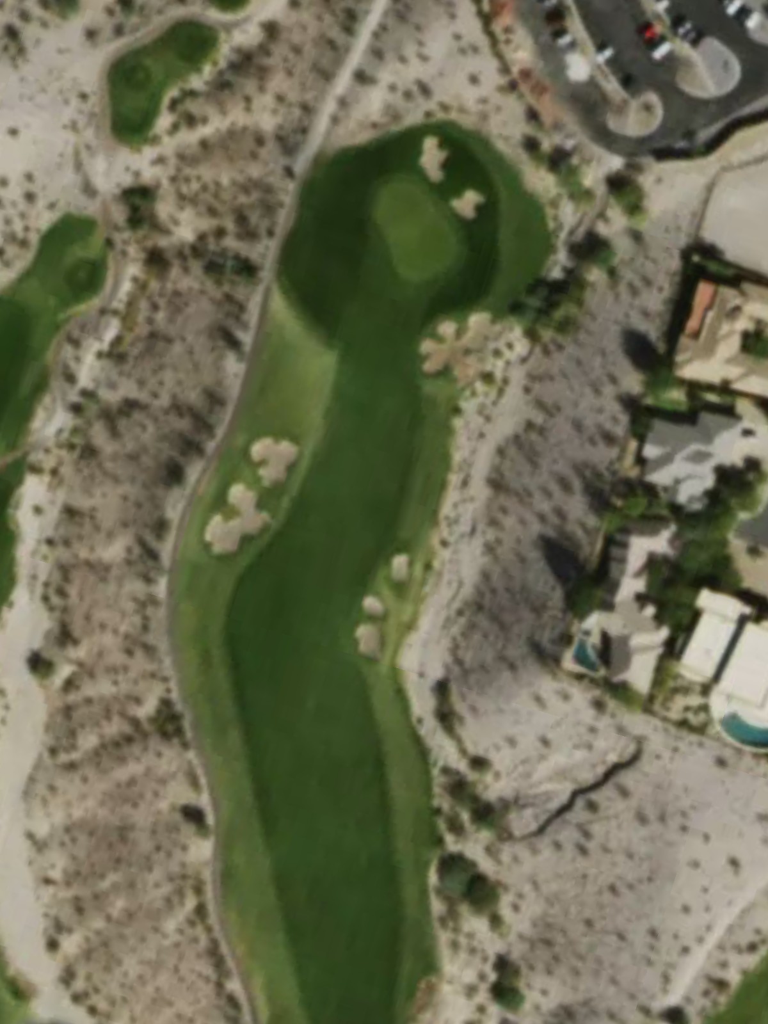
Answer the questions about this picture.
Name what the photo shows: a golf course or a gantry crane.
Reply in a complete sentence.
I can see a golf course in this picture.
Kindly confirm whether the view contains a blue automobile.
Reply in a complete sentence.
No, I can see no blue automobile in this picture.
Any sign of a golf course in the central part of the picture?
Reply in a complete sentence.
Yes, the scene does show a golf course in the central part of the picture.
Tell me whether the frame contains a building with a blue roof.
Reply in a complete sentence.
No, the frame has no building with a blue roof in it.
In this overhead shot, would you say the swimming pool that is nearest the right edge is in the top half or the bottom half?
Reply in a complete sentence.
The swimming pool that is nearest the right edge is in the bottom half of the image.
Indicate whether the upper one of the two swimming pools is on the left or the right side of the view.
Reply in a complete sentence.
The upper one of the two swimming pools appears in the right half of the scene.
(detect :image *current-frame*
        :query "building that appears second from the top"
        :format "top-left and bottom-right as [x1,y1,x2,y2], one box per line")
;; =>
[644,410,748,511]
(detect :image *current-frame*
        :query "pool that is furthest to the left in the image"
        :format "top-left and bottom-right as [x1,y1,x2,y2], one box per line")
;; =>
[572,637,602,674]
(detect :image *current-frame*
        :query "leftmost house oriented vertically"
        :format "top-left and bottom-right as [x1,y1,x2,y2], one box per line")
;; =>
[598,514,679,698]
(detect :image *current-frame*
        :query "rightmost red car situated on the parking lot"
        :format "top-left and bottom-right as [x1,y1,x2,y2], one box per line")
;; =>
[639,23,659,38]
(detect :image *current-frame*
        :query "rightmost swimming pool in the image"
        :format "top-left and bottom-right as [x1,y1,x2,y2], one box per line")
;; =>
[722,710,768,753]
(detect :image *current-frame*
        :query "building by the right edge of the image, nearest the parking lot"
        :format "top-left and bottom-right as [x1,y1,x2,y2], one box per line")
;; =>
[680,278,768,398]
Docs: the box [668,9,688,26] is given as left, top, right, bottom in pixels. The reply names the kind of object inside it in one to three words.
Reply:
car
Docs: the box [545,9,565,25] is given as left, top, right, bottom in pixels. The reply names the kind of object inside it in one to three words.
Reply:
car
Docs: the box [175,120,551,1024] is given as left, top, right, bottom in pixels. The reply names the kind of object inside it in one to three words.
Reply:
golf course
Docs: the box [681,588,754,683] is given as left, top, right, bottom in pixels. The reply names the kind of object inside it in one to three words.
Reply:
house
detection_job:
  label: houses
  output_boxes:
[644,410,748,511]
[598,514,679,698]
[721,623,768,708]
[680,278,768,398]
[681,588,754,683]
